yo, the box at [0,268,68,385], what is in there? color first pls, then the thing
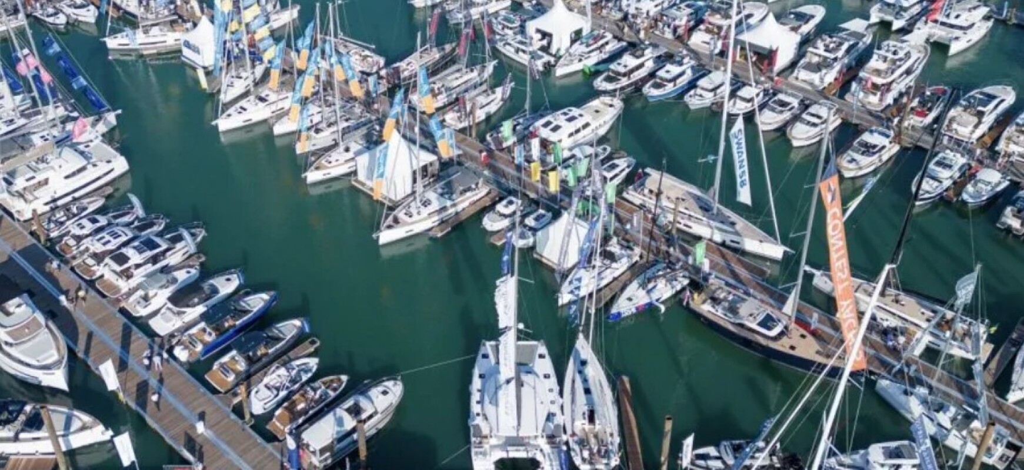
white boat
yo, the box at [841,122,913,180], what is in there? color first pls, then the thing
white boat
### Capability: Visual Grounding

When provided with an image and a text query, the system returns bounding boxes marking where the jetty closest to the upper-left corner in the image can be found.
[97,0,191,39]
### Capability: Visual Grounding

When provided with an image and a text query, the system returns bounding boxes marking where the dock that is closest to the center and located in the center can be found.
[488,215,531,248]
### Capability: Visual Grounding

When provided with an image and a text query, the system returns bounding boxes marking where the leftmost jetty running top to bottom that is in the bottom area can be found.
[616,379,647,470]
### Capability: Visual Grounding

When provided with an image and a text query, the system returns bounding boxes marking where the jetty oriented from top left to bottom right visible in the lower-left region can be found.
[0,214,286,470]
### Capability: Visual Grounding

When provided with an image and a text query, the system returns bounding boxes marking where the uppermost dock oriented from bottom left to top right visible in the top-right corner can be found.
[817,61,867,96]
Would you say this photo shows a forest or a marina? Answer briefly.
marina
